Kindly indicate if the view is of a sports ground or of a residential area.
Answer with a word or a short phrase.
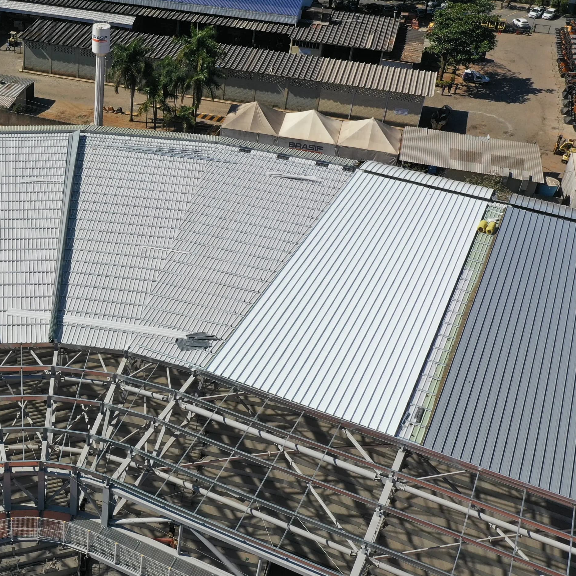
sports ground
